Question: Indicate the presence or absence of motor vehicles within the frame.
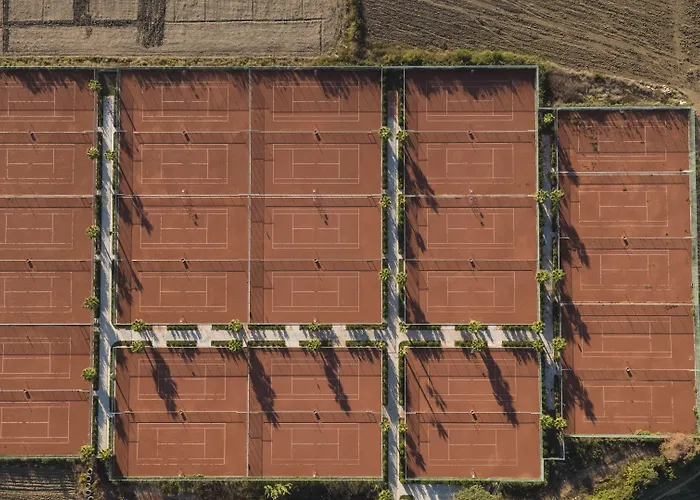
No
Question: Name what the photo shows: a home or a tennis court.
tennis court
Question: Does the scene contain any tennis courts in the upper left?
Yes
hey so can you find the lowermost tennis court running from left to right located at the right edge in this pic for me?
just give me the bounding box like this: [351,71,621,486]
[563,370,697,433]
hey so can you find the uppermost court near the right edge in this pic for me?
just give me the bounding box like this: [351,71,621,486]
[558,111,690,172]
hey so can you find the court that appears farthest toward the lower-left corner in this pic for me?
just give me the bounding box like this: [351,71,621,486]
[0,391,93,455]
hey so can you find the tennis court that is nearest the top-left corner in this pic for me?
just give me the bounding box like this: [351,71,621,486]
[0,71,96,131]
